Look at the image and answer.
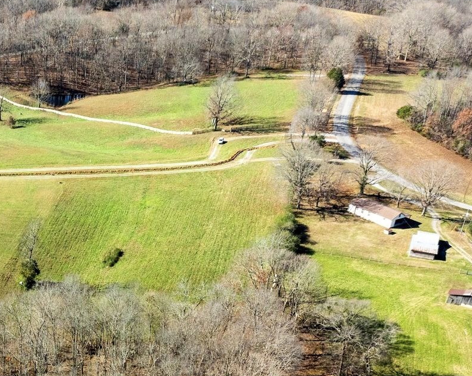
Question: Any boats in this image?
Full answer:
No, the picture doesn't show any boat.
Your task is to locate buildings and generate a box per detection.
[446,287,472,308]
[408,230,440,261]
[347,193,430,231]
